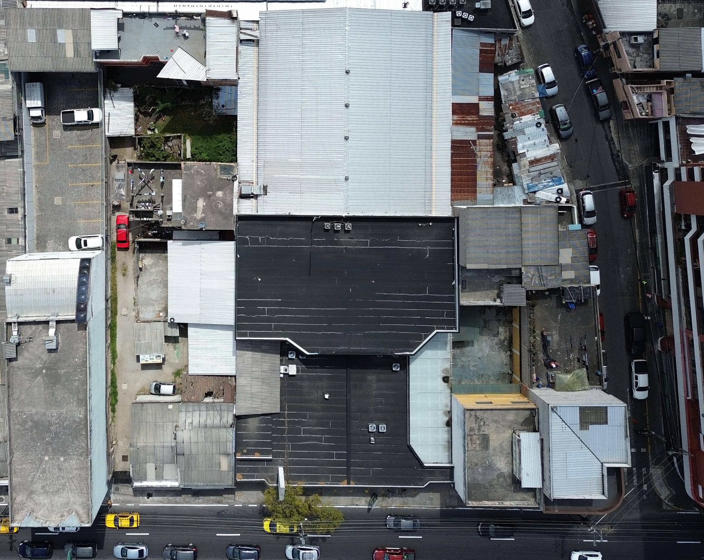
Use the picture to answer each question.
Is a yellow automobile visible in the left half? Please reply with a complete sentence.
Yes, you'll find a yellow automobile in the left half.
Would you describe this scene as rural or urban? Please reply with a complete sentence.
It looks urban.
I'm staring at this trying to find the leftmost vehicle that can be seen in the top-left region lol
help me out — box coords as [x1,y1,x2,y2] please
[27,83,44,124]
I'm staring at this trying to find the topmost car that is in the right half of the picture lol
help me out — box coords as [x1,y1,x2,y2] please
[511,0,533,27]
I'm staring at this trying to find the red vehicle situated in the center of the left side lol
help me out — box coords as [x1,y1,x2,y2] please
[114,214,130,249]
